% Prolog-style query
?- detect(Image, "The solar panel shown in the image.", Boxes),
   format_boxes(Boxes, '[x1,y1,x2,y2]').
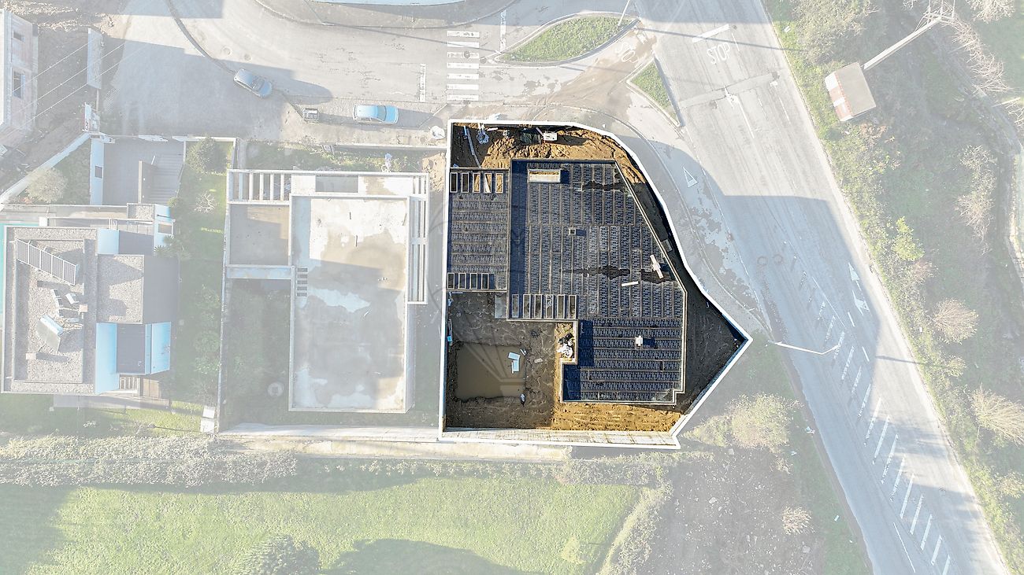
[16,235,88,284]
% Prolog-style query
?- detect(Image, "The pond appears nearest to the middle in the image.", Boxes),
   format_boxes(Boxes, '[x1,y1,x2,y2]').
[455,344,526,400]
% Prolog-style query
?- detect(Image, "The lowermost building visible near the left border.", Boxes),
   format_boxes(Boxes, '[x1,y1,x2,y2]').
[2,203,181,408]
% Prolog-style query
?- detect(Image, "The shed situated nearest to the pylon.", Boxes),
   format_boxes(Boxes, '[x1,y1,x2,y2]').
[822,63,876,123]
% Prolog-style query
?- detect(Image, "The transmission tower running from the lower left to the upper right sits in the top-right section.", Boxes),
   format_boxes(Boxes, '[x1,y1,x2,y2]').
[861,0,956,74]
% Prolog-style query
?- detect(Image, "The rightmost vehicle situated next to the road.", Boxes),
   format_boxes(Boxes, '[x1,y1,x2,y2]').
[352,100,397,122]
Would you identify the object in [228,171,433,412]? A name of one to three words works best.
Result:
house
